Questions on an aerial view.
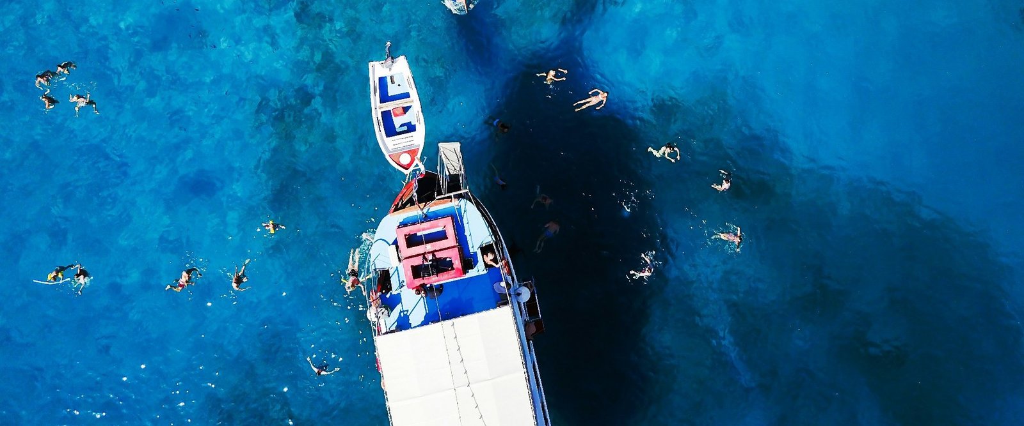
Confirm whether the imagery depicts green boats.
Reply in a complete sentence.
No, there is no green boat in the image.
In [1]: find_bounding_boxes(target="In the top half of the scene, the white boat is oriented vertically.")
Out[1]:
[369,41,424,172]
